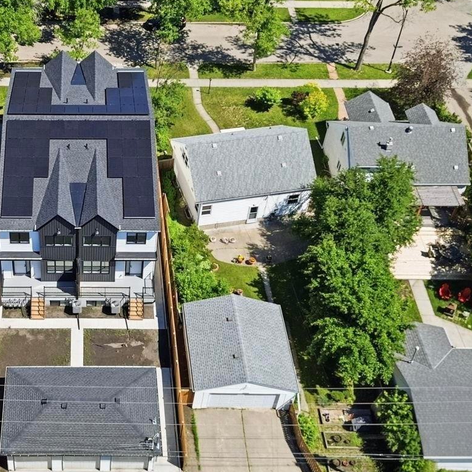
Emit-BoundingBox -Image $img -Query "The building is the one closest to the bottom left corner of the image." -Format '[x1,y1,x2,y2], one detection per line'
[0,365,168,466]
